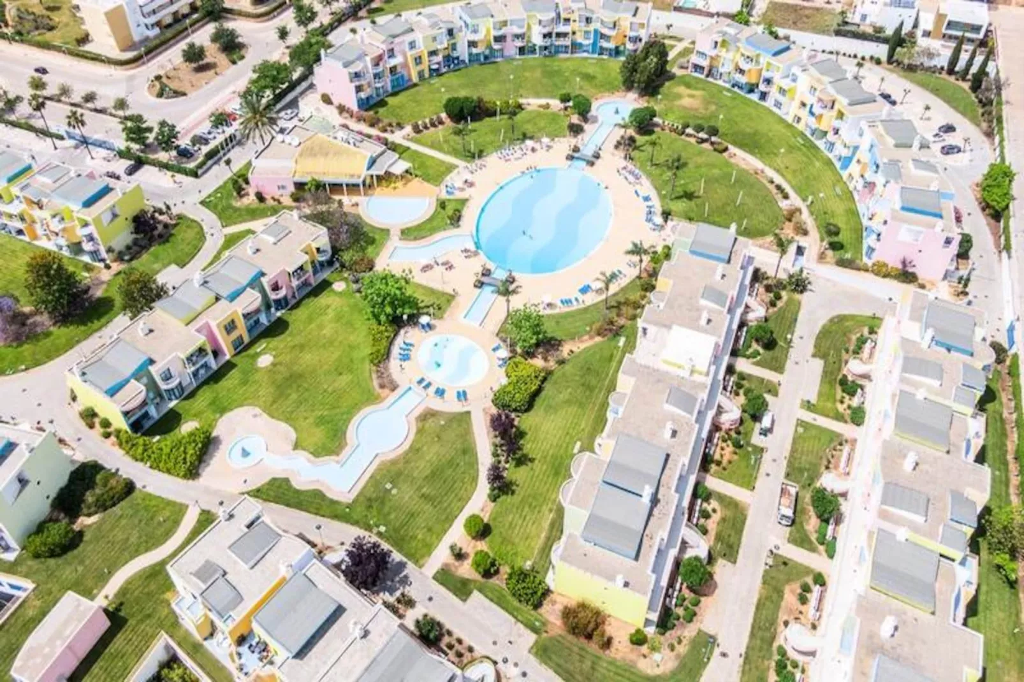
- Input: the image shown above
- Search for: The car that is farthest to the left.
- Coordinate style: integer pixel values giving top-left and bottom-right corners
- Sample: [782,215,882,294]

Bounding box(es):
[29,62,51,75]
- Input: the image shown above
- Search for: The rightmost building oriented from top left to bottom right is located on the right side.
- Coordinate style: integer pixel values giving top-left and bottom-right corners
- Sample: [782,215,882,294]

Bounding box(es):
[687,11,961,274]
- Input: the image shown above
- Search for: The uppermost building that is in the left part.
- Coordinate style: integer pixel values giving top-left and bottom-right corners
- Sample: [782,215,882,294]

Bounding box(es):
[89,0,205,51]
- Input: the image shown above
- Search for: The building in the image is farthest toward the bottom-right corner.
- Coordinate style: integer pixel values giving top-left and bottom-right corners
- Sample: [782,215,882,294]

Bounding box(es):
[805,288,997,682]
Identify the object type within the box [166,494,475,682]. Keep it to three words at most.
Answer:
building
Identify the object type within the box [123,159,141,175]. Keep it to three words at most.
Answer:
car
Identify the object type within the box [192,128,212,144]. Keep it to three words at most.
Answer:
car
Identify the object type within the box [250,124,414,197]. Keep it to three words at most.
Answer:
building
